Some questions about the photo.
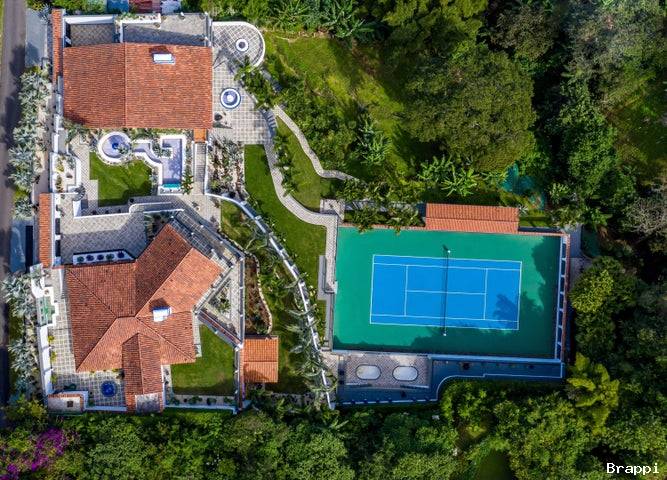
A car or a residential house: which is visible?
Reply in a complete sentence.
Visible in the photo is a residential house.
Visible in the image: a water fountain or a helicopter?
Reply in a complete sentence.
Looking from above, you can make out a water fountain.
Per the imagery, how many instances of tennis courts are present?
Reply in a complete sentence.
The photo contains exactly 1 tennis court.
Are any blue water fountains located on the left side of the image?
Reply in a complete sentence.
Yes, I can see a blue water fountain on the left side of the image.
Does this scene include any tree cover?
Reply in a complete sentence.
Yes, the picture does contain tree cover.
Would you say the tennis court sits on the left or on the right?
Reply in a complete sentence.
The tennis court sits on the right side.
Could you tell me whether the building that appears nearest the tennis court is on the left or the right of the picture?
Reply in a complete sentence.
The building that appears nearest the tennis court sits on the right side.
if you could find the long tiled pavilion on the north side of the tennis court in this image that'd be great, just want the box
[425,203,519,234]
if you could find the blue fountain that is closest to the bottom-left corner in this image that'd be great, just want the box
[100,380,119,397]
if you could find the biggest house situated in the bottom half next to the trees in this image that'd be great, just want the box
[65,224,223,412]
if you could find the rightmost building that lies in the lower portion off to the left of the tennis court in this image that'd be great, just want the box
[244,336,279,384]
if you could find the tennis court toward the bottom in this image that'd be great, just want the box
[334,227,562,358]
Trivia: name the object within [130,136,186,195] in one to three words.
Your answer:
swimming pool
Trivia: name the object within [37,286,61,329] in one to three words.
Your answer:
fountain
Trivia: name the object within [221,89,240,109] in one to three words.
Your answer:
fountain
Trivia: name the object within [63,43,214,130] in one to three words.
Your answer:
house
